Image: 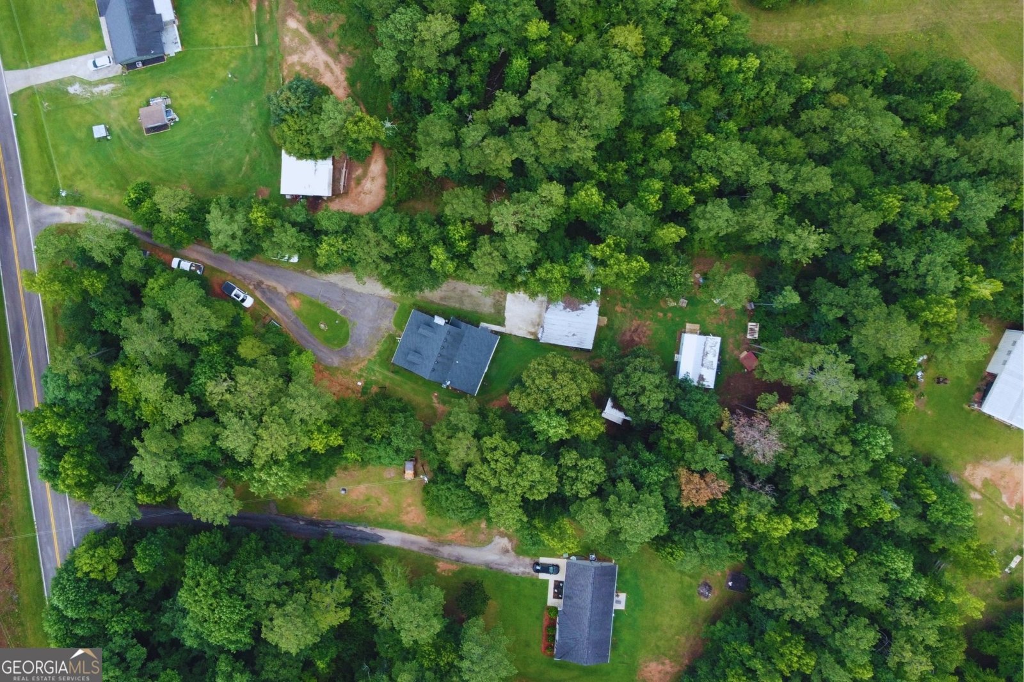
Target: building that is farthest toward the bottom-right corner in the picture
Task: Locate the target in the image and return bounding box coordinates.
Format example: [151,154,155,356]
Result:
[973,330,1024,430]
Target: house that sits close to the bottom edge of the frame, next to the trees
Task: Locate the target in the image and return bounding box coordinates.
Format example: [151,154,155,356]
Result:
[554,560,617,665]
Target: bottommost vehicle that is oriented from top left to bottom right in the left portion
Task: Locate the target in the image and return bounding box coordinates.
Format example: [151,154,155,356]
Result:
[220,280,253,308]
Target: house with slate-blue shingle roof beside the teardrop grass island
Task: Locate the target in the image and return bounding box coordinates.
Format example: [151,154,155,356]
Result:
[392,309,500,396]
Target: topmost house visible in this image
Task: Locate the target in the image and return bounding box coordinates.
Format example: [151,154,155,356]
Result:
[95,0,174,73]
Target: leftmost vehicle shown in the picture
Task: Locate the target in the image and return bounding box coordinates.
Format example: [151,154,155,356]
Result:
[85,53,113,70]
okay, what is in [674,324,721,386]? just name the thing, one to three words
house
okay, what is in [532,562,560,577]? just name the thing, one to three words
car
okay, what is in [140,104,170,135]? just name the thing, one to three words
shed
